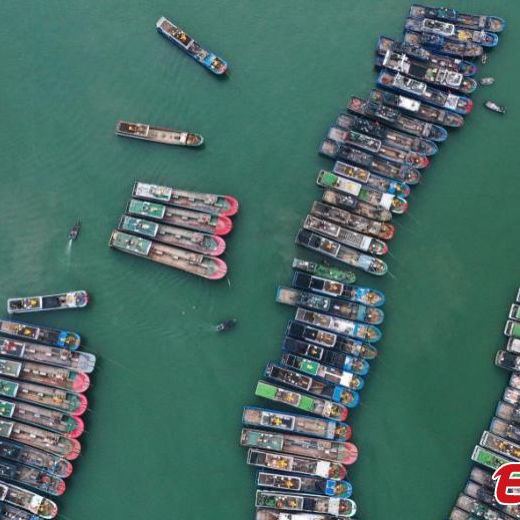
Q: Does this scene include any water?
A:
Yes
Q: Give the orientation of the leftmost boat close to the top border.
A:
diagonally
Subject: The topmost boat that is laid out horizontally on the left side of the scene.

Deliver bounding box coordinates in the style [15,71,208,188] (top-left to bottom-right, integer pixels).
[114,123,204,149]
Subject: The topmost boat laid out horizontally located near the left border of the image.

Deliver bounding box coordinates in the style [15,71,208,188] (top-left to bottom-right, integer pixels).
[8,292,90,314]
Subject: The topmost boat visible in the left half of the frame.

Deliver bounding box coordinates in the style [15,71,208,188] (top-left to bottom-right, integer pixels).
[155,18,228,75]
